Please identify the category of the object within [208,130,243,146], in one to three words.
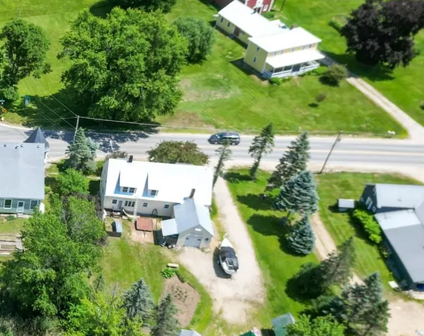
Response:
car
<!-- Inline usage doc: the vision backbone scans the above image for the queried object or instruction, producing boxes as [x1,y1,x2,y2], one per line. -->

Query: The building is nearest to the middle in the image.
[102,147,218,248]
